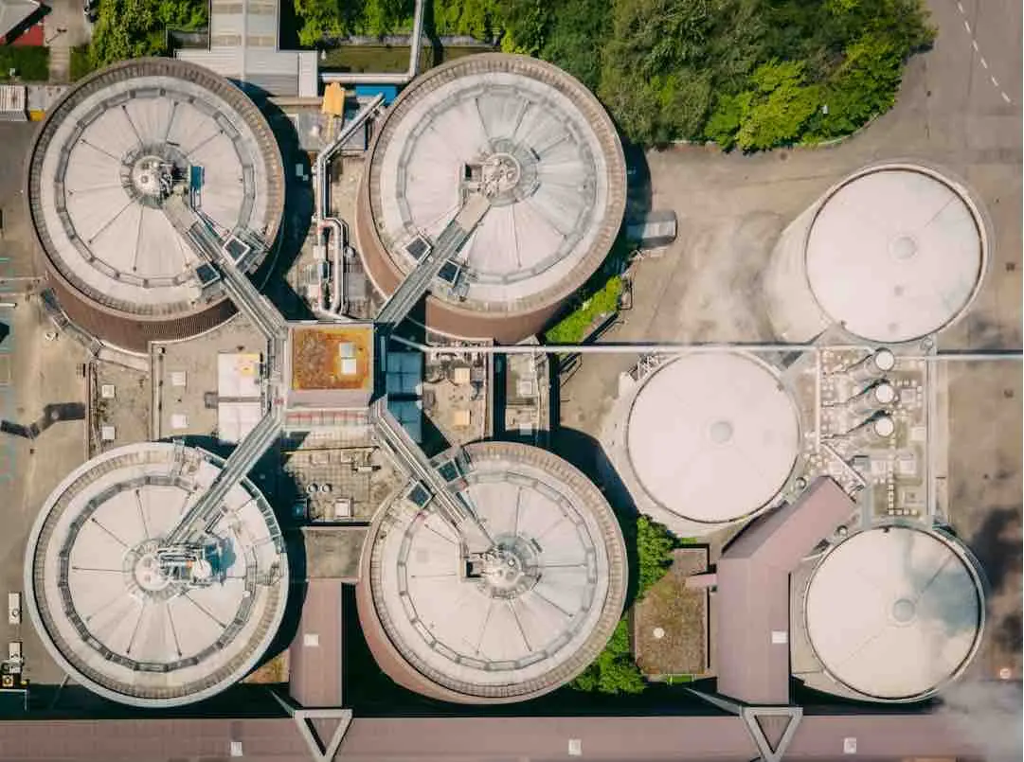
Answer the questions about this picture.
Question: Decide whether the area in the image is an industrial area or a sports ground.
industrial area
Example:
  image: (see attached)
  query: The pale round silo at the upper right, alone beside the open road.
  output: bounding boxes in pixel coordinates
[767,162,988,350]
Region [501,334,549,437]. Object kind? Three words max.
building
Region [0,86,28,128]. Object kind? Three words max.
shed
